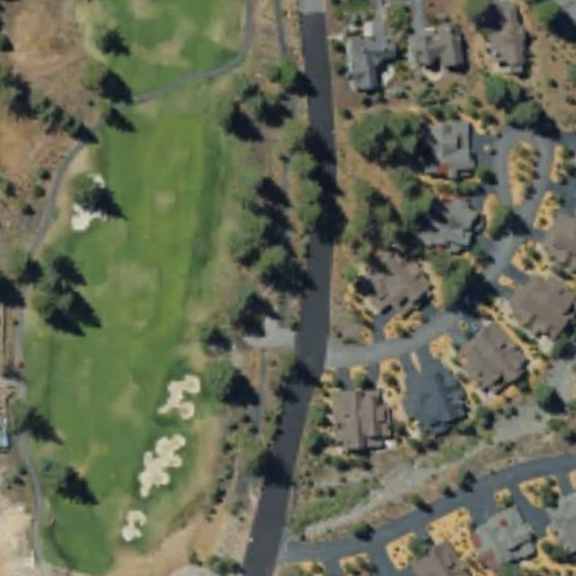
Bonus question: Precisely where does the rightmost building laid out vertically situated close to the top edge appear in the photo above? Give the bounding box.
[490,0,531,74]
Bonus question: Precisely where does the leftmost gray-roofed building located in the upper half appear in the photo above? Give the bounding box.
[343,35,399,92]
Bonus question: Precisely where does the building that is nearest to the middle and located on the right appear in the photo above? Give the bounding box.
[371,250,435,315]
